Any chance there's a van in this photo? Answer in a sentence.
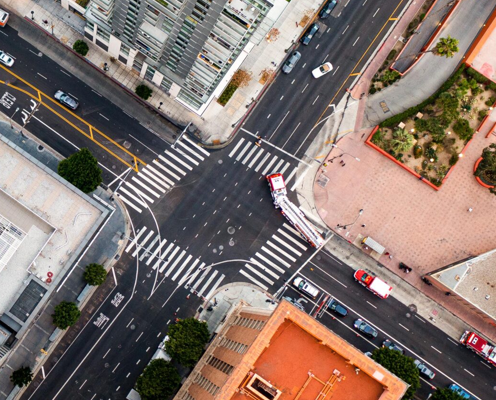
Yes, the photo shows a van.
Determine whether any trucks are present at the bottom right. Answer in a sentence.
Yes, I can see a truck at the bottom right.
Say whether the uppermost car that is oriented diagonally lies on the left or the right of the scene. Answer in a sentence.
The uppermost car that is oriented diagonally sits on the right side.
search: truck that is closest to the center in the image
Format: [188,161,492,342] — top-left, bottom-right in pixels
[264,166,290,199]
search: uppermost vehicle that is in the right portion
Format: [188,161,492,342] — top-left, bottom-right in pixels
[316,0,339,21]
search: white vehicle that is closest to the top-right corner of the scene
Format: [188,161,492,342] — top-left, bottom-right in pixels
[310,62,334,81]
